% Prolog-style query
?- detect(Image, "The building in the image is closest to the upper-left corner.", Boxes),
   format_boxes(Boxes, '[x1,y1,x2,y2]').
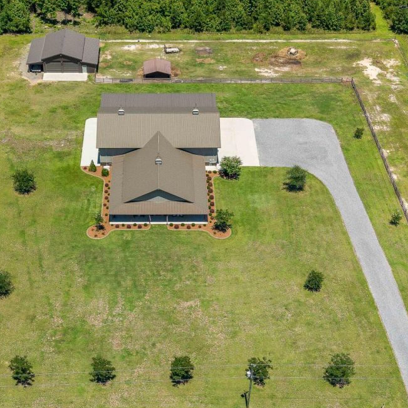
[27,28,100,73]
